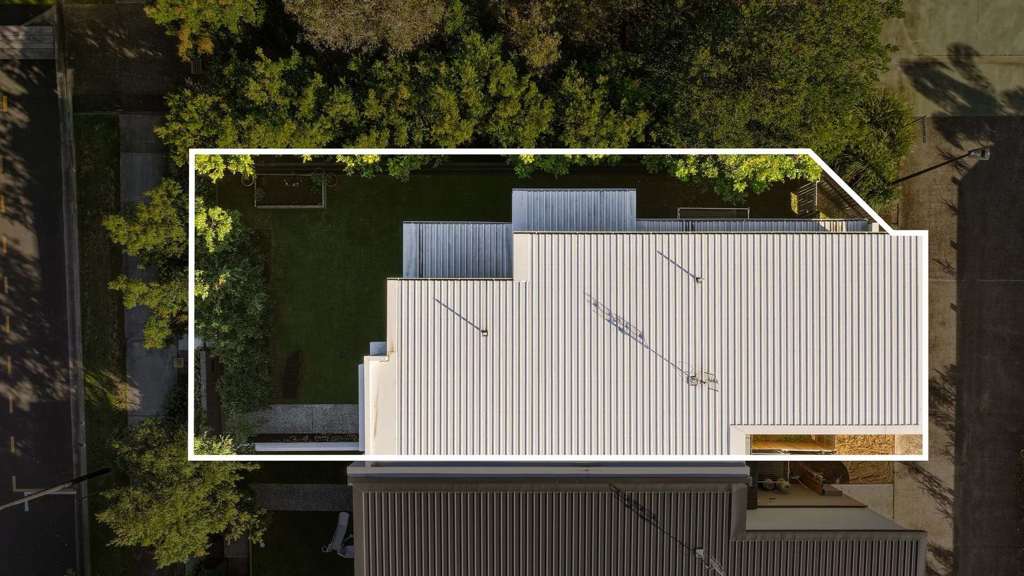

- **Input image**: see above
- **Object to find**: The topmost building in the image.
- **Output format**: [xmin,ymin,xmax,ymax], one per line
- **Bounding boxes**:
[348,189,922,474]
